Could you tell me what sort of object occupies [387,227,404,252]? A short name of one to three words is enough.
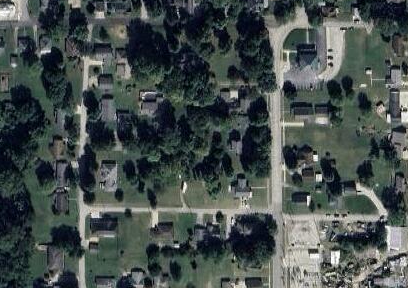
building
